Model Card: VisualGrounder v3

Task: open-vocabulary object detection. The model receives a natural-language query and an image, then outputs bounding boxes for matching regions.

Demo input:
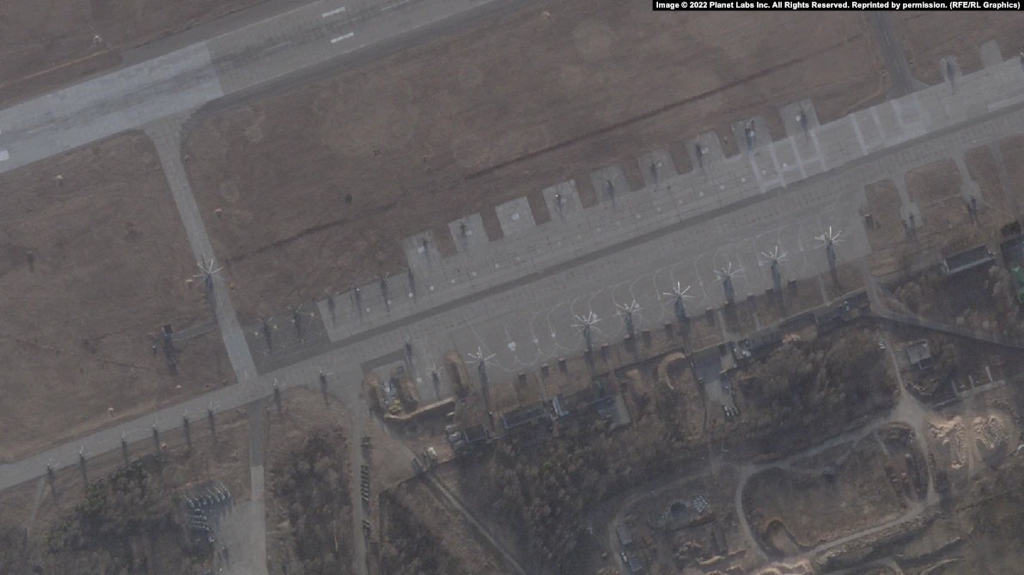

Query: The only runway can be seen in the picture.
[206,0,492,95]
